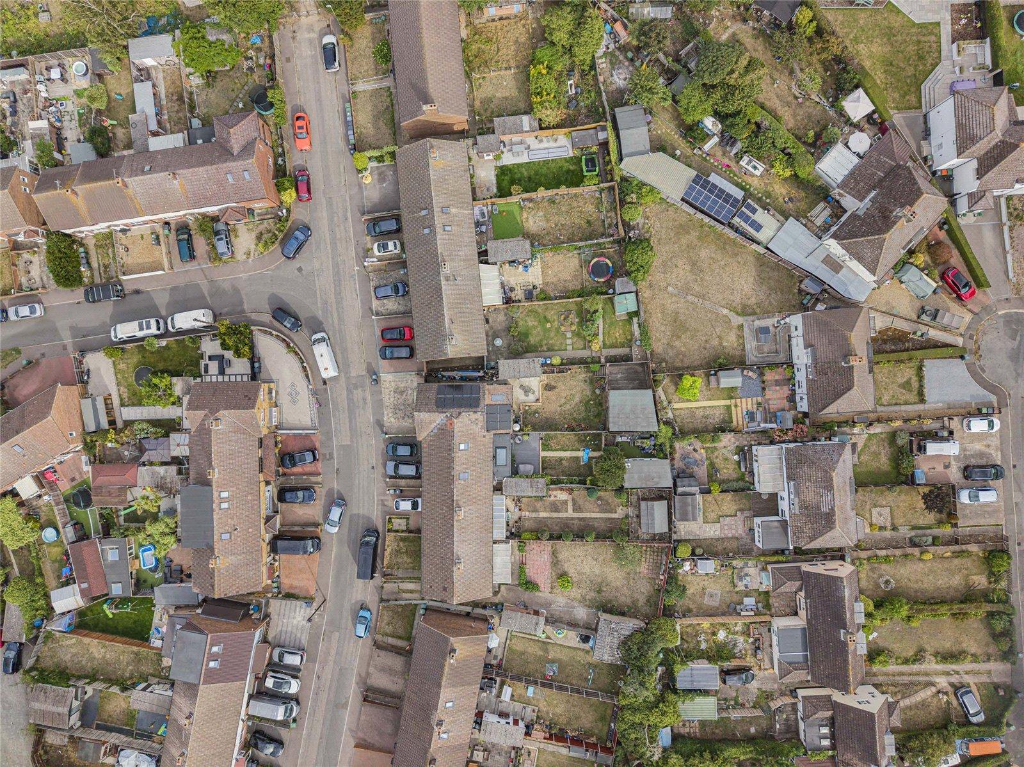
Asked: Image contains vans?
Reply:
Yes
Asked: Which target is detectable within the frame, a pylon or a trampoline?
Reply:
trampoline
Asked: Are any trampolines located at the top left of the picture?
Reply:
Yes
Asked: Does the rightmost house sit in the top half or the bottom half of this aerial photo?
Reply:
top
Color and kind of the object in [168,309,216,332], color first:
white vehicle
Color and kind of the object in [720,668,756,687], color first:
gray car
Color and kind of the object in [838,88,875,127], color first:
white gazebo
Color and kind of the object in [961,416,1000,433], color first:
white car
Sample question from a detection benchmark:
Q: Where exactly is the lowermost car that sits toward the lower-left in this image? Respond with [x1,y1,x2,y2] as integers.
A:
[245,730,286,757]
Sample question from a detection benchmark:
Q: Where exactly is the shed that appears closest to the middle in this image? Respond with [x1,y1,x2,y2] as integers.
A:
[499,358,541,379]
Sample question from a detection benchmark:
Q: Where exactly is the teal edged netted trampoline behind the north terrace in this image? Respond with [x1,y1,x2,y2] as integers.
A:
[239,80,273,115]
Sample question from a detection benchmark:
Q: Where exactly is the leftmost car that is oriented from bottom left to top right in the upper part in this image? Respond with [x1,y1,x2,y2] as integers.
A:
[280,224,312,262]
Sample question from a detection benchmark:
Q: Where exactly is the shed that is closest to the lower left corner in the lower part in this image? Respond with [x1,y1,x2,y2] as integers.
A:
[27,679,85,729]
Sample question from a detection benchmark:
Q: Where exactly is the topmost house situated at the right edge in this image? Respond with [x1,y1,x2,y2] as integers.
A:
[931,86,1024,213]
